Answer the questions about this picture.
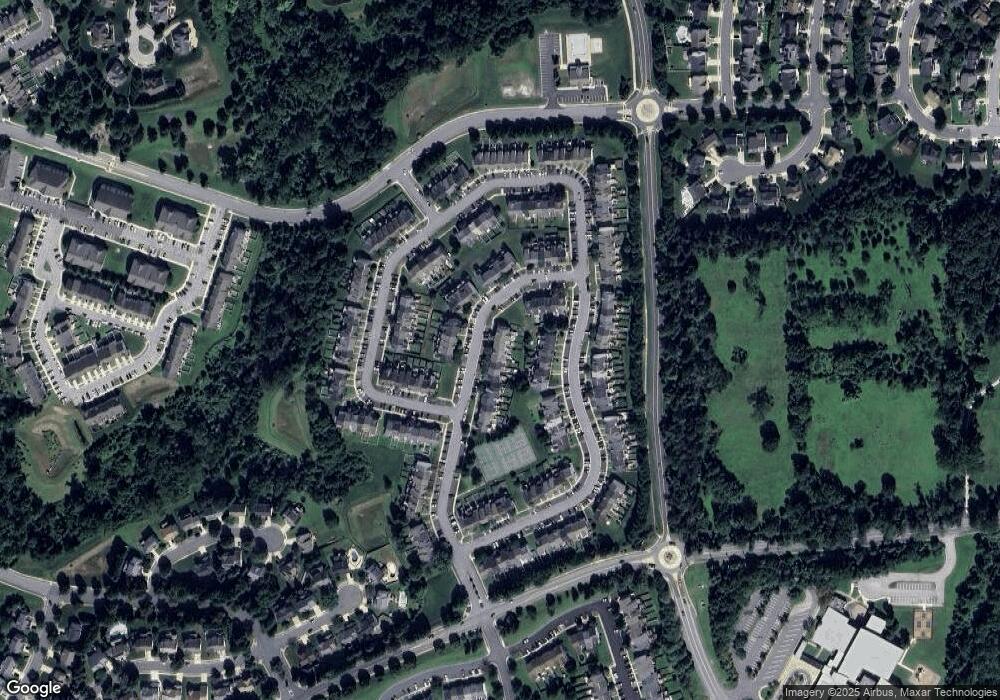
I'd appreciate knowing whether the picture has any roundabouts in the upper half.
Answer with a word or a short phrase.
Yes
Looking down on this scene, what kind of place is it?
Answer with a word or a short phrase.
residential area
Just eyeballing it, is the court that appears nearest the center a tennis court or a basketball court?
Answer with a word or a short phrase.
tennis court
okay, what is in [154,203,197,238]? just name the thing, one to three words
building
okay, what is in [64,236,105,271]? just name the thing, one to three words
building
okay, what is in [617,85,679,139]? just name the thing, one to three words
roundabout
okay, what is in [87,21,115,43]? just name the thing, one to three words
house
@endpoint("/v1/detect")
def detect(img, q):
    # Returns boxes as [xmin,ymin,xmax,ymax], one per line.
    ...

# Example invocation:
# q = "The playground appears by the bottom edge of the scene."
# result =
[911,664,940,692]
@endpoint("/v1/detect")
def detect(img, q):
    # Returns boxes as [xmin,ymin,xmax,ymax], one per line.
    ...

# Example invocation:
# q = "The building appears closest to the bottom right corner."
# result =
[800,607,905,700]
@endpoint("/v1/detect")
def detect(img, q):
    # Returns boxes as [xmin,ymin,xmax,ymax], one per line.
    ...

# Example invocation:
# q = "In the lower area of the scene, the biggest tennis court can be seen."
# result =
[474,427,537,481]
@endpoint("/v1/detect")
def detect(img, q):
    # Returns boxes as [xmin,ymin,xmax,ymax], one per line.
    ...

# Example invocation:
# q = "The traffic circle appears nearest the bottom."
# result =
[639,533,696,580]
